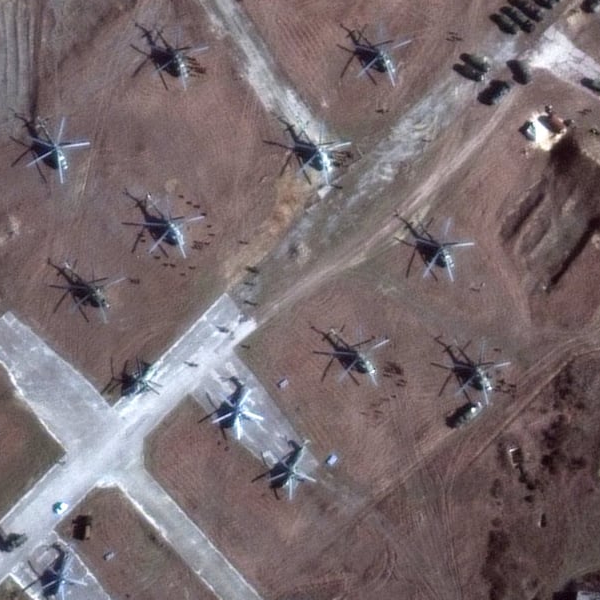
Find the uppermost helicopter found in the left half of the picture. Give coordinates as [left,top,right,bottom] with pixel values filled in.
[145,17,210,87]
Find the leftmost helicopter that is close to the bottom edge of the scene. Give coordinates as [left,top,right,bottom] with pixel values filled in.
[36,541,90,600]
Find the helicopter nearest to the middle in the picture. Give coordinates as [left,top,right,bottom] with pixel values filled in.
[326,323,392,386]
